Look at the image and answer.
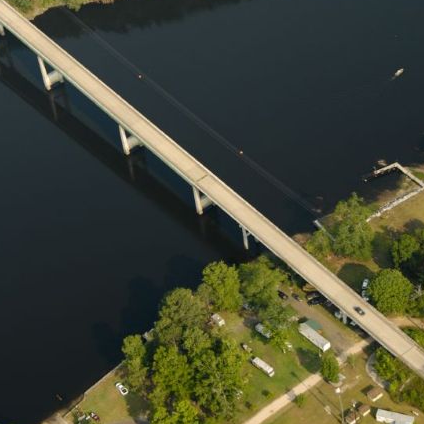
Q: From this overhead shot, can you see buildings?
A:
Yes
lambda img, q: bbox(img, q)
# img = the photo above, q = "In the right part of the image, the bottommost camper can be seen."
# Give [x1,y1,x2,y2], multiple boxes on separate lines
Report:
[251,357,274,380]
